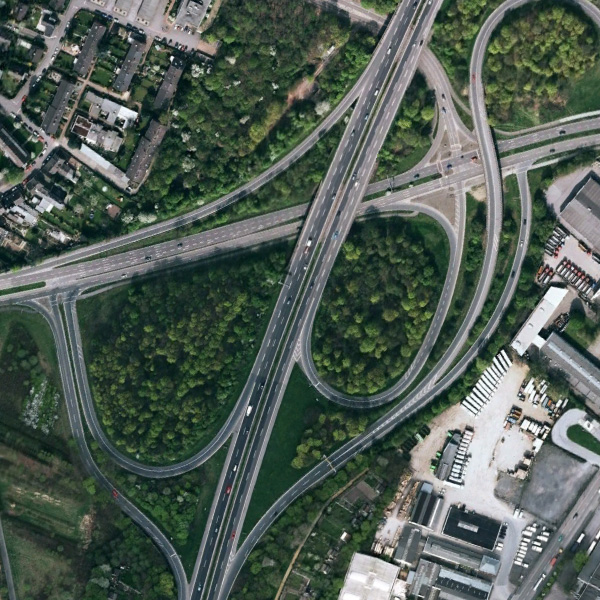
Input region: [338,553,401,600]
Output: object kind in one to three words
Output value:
building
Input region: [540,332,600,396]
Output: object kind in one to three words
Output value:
shed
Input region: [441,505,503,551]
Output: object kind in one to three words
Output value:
building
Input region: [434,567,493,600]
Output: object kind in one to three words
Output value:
shed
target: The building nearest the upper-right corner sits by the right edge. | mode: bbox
[560,176,600,251]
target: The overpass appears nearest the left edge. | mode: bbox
[303,161,369,249]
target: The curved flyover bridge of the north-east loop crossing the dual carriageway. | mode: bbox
[471,100,504,226]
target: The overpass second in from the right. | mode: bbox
[373,0,437,70]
